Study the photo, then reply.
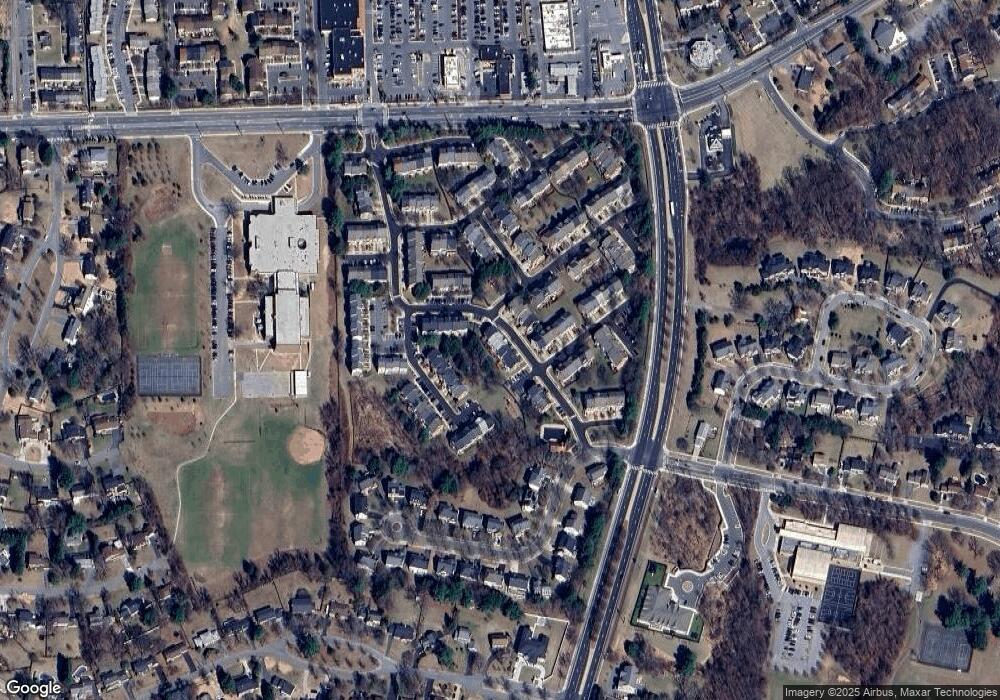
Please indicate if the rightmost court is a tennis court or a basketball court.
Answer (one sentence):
Looking closely, the rightmost court is a tennis court.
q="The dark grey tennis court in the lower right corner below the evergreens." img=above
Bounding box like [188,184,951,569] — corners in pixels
[920,624,973,672]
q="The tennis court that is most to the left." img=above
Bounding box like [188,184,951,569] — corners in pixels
[138,356,200,396]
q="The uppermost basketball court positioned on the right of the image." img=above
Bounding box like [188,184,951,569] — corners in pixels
[818,564,861,625]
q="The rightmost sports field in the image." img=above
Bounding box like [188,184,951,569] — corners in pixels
[180,411,330,574]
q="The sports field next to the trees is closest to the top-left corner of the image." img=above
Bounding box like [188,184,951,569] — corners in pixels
[130,221,202,357]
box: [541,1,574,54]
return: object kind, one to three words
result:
building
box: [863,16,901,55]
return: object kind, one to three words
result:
building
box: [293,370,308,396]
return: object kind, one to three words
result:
shed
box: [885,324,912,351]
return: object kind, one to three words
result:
house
